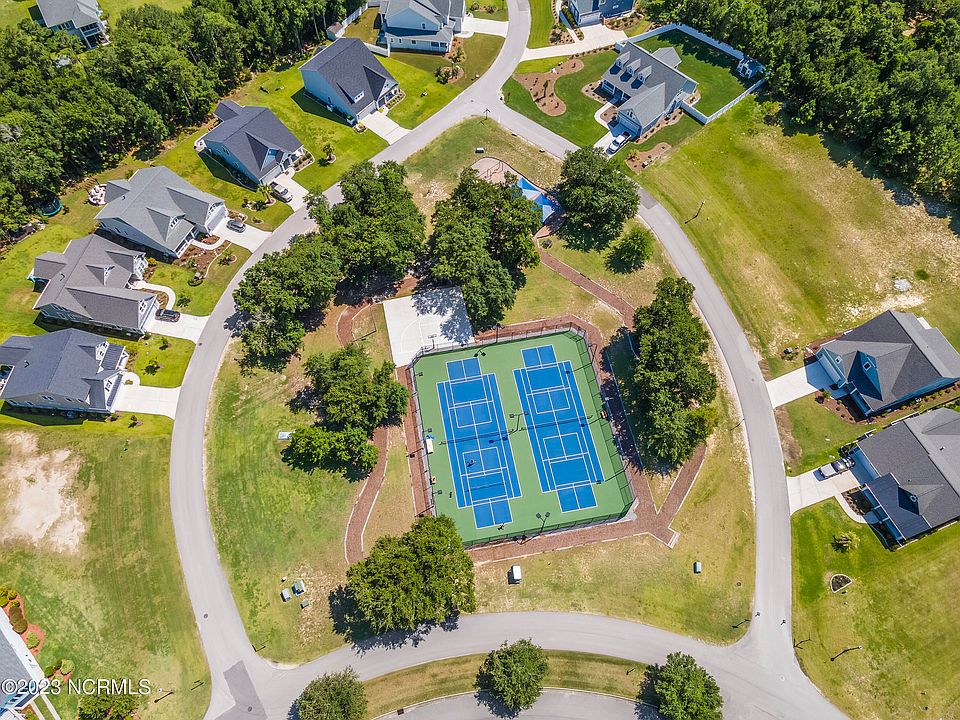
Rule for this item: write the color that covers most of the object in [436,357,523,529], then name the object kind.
blue tennis court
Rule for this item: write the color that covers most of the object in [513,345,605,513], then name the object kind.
blue tennis court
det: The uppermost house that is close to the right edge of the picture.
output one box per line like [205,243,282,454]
[816,309,960,416]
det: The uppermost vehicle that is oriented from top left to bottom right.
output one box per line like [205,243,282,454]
[269,179,292,198]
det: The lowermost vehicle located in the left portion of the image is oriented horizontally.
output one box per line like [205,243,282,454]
[153,309,180,322]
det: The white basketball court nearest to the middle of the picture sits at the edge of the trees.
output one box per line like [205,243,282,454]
[383,287,474,365]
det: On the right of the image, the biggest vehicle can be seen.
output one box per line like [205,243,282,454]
[820,458,855,476]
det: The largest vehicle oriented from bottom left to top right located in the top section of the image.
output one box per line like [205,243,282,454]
[609,134,630,154]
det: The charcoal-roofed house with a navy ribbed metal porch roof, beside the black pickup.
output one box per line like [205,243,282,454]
[851,400,960,545]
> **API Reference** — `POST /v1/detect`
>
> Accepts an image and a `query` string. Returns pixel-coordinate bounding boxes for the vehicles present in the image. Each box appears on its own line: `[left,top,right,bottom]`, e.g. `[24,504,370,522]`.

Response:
[269,179,292,198]
[609,134,630,154]
[224,217,247,232]
[820,458,855,476]
[153,309,180,322]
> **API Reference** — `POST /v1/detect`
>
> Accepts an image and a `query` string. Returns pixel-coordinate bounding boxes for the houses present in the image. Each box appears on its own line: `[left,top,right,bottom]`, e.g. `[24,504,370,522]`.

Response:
[0,330,133,415]
[382,0,462,52]
[0,608,55,720]
[562,0,638,28]
[816,309,960,416]
[93,166,228,256]
[297,38,399,124]
[30,233,160,336]
[201,100,303,185]
[602,41,702,138]
[851,400,960,545]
